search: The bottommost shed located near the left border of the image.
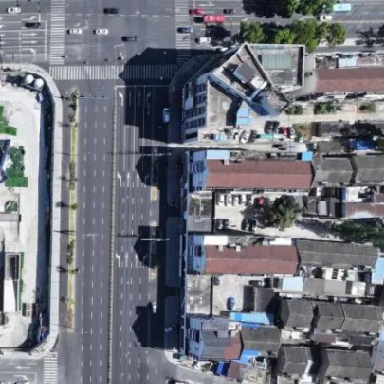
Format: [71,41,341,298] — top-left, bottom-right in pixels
[2,279,18,313]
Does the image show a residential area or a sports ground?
residential area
